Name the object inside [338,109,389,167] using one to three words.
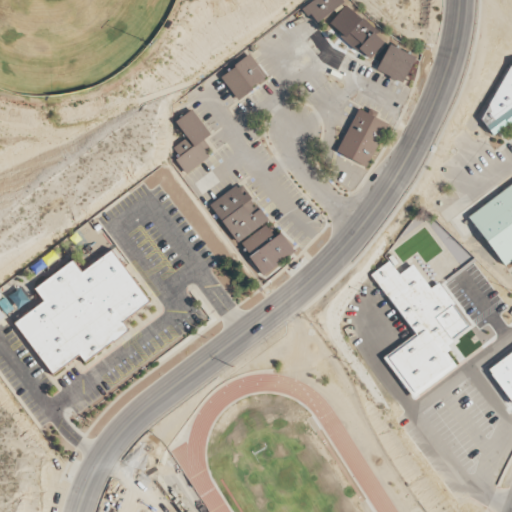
building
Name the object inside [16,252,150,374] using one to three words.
building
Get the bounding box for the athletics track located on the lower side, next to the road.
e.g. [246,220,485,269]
[172,372,394,512]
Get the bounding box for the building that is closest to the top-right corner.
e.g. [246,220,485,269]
[480,66,512,126]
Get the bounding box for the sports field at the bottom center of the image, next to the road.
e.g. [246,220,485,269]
[208,394,371,512]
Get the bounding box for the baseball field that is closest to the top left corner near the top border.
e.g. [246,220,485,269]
[0,0,172,95]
